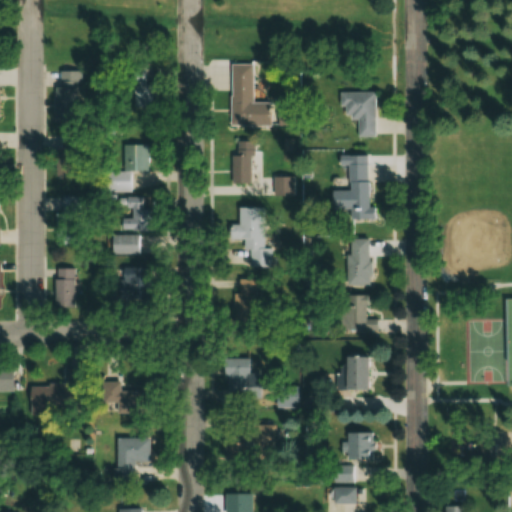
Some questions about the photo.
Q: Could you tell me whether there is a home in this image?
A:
Yes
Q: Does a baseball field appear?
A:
Yes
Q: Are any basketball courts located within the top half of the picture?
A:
No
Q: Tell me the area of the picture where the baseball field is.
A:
right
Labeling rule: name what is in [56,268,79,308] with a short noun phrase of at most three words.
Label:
house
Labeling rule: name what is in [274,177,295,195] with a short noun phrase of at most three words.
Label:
building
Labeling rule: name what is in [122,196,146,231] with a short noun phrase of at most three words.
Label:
house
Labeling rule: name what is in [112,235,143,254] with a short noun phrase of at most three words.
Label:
building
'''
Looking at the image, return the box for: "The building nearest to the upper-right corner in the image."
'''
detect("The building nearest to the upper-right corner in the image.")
[340,92,378,138]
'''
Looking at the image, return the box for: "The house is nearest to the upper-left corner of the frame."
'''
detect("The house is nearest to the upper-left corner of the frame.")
[56,71,86,110]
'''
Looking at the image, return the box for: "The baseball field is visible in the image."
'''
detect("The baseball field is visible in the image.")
[444,210,512,277]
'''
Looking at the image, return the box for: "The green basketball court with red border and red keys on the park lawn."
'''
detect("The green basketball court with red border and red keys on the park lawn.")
[468,320,504,384]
